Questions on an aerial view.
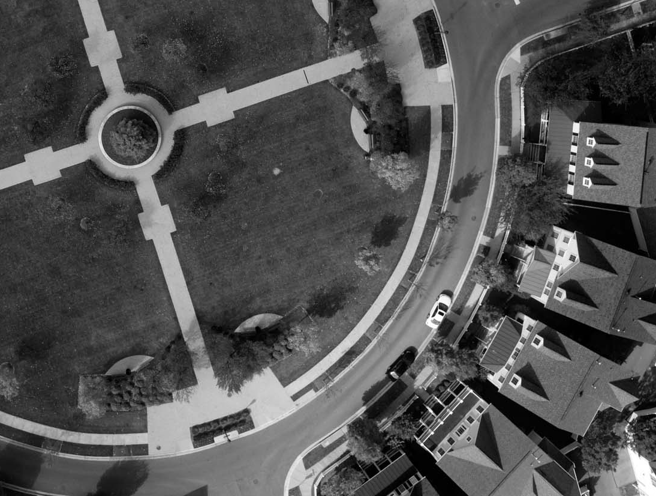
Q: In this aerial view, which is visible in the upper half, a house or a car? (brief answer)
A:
house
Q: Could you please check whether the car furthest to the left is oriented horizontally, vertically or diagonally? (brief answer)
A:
diagonally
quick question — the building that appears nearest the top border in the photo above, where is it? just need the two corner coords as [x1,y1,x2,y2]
[520,108,656,208]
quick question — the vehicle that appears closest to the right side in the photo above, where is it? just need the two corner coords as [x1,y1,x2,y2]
[425,291,455,331]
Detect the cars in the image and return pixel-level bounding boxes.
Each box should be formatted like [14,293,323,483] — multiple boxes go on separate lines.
[425,291,455,331]
[385,343,417,382]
